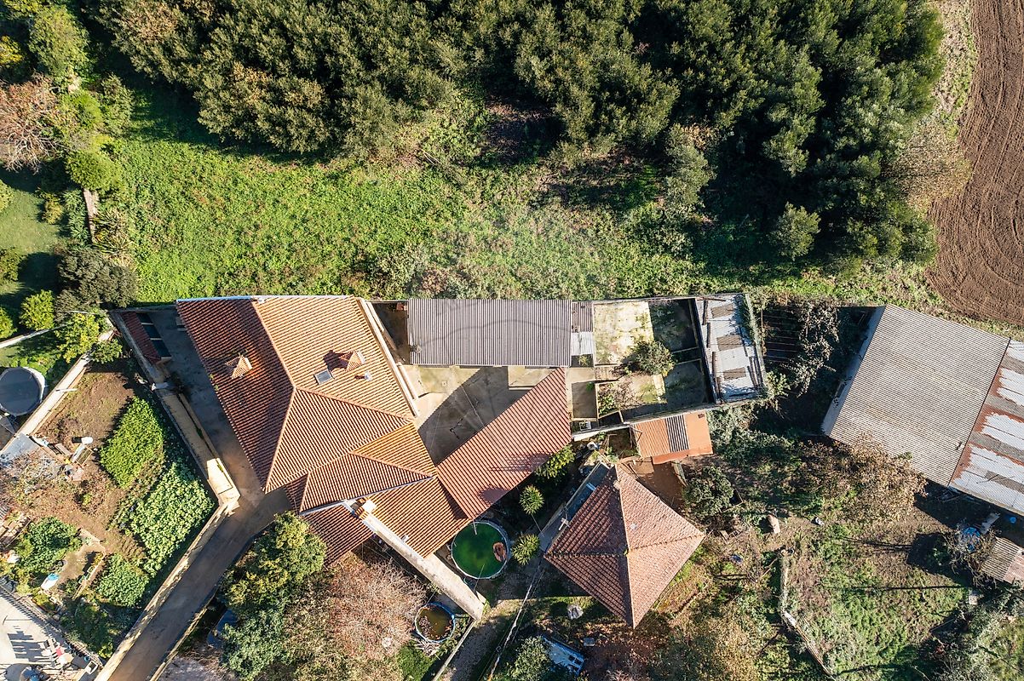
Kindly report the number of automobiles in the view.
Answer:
0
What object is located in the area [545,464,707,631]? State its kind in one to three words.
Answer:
house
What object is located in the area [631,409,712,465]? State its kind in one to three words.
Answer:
shed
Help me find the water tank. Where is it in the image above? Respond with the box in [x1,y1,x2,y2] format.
[569,382,600,420]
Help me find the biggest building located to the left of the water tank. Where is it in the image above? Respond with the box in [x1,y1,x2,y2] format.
[175,293,467,564]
